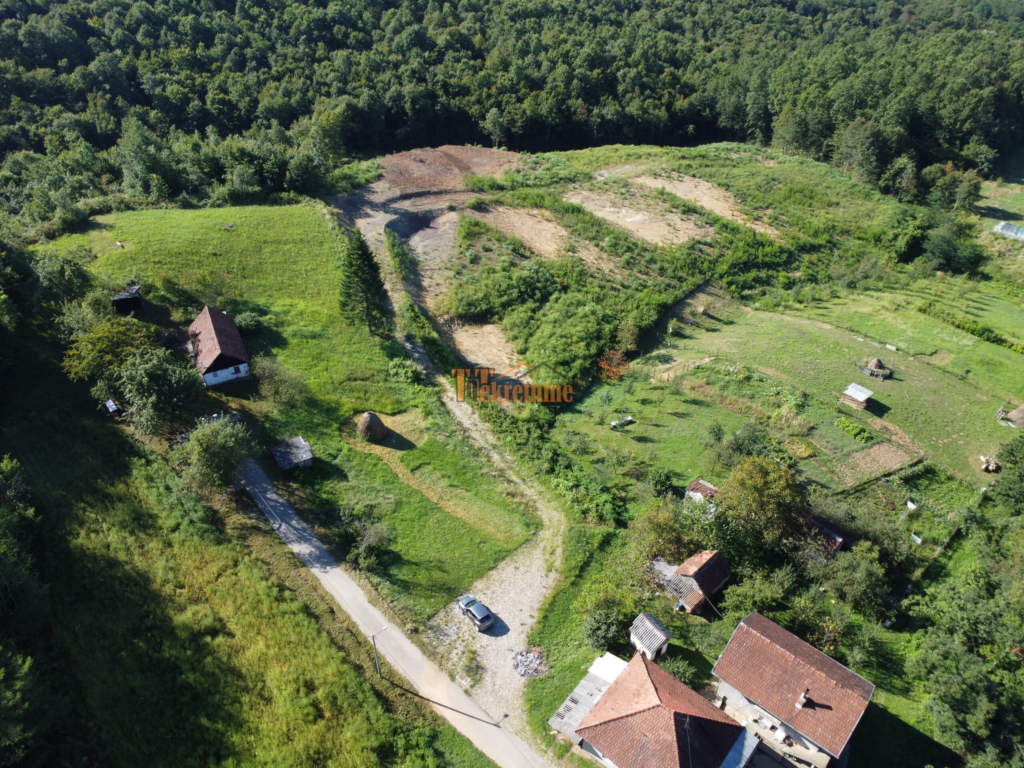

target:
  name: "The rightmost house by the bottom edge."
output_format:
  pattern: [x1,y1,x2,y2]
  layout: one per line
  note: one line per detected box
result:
[710,611,877,768]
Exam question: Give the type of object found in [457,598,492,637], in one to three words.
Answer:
car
